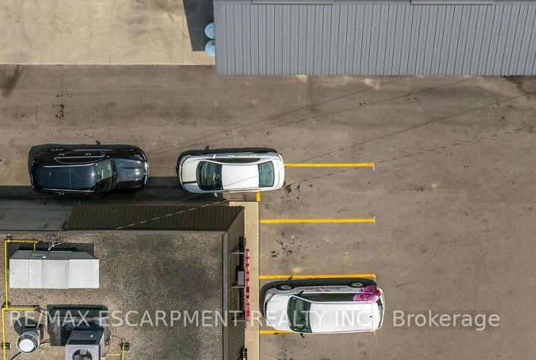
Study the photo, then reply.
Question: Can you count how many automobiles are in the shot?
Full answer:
There are 3 automobiles in the image.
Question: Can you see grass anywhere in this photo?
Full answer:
No, the picture contains no grass.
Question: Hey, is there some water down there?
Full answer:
No, no water is visible.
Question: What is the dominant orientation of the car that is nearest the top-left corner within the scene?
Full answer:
In this picture, the car that is nearest the top-left corner is oriented from side to side.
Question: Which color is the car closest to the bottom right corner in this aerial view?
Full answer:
The color of the car closest to the bottom right corner is white.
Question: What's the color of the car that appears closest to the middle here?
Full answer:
The color of the car that appears closest to the middle is white.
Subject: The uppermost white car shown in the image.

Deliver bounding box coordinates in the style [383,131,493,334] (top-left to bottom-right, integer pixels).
[178,153,285,203]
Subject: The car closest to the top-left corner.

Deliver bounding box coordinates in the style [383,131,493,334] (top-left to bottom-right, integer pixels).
[30,151,150,205]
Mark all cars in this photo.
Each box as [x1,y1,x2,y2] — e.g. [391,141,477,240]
[263,281,385,341]
[178,153,285,203]
[30,151,150,205]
